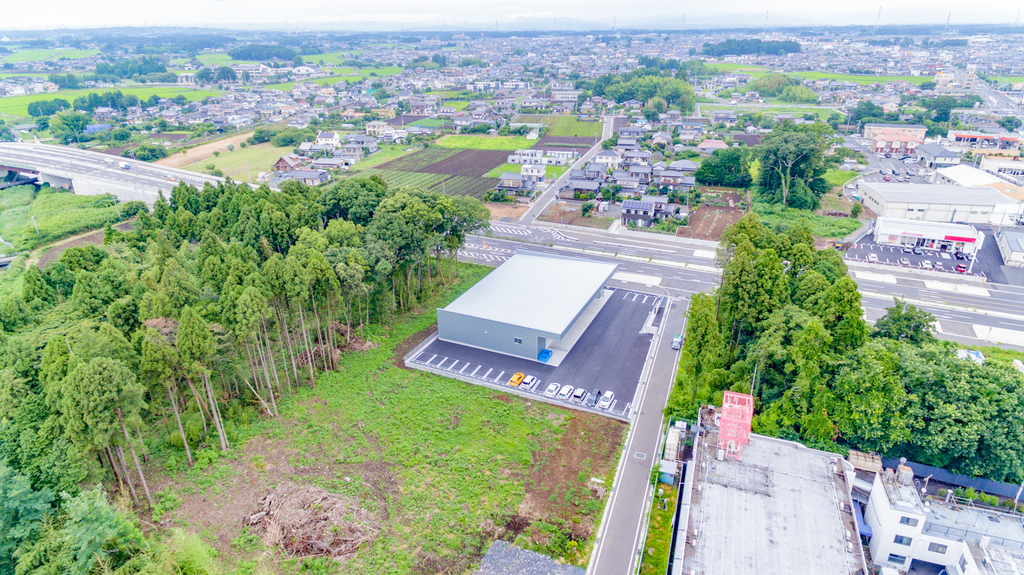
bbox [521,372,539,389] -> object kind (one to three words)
car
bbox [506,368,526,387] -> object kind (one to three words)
car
